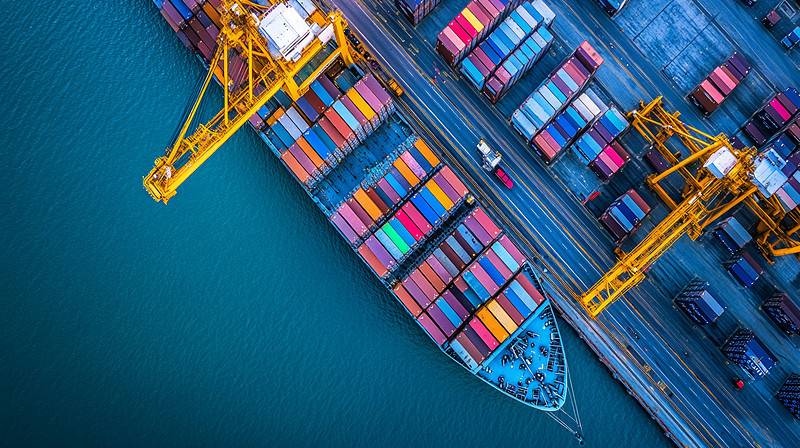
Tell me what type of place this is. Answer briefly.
port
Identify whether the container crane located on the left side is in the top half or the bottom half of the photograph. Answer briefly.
top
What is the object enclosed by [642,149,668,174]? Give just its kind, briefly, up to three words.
shipping container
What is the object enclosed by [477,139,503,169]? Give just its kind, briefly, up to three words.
truck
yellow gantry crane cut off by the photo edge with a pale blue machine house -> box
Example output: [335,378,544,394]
[720,144,800,262]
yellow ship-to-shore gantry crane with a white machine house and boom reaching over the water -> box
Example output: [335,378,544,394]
[130,0,368,213]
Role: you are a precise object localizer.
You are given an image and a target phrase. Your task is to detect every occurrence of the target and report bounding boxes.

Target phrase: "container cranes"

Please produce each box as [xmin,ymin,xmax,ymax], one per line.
[130,0,368,213]
[573,86,800,322]
[720,144,800,262]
